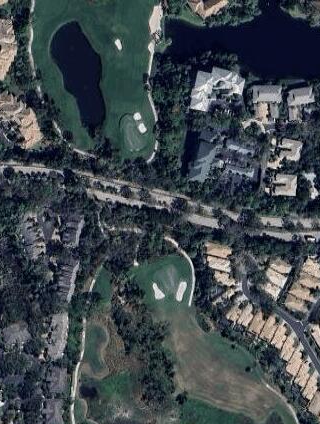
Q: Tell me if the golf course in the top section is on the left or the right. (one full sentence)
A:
The golf course in the top section sits on the left side.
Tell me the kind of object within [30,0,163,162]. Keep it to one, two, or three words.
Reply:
golf course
